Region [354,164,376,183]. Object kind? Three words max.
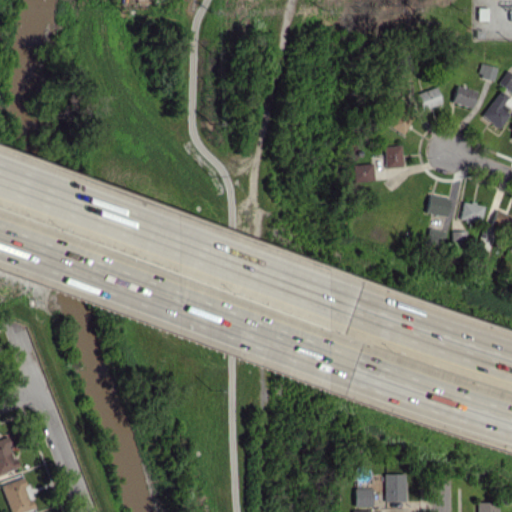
building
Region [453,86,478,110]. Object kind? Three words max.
house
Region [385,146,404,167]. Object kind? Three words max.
house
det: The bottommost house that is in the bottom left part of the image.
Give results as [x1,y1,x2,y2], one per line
[2,478,37,512]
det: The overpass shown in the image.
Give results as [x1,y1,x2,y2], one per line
[0,144,512,455]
